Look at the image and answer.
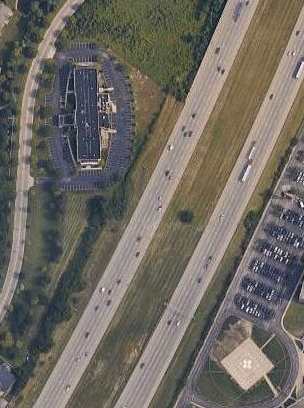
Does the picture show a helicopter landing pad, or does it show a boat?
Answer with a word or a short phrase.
helicopter landing pad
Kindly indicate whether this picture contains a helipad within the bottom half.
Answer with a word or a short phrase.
Yes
